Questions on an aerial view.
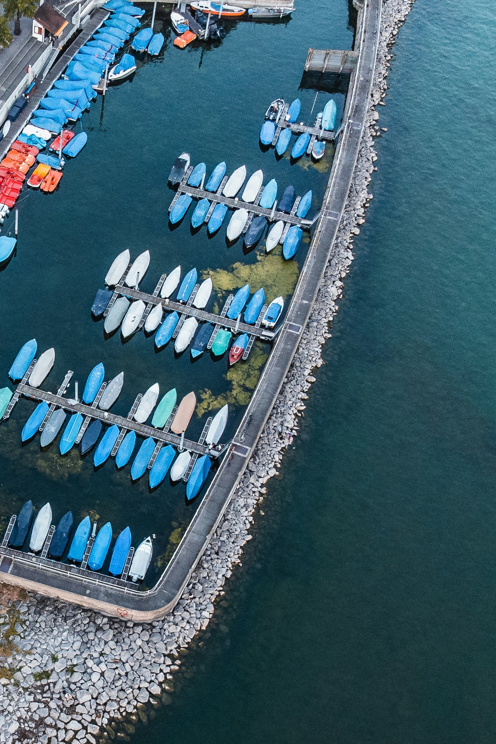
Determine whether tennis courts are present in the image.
No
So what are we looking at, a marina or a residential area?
marina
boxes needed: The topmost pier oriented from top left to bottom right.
[173,10,212,44]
